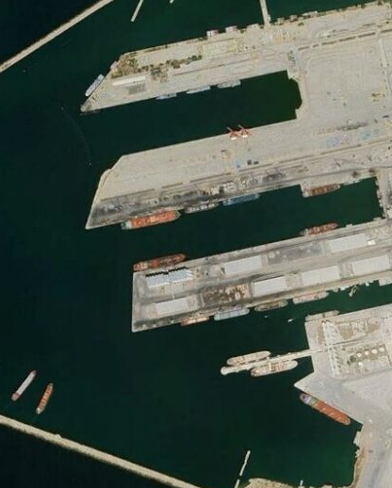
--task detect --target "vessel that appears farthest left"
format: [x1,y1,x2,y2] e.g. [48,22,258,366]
[11,371,36,401]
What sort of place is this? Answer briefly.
port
